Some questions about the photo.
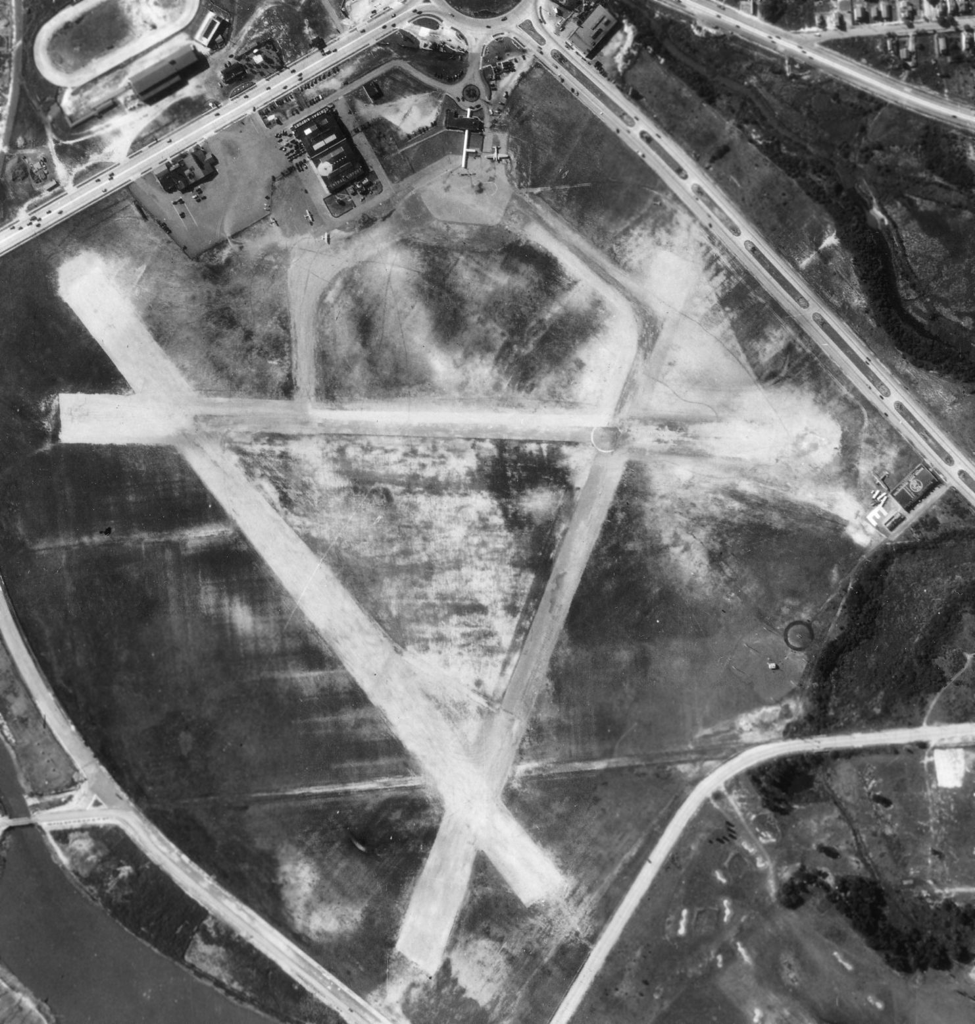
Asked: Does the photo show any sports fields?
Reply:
Yes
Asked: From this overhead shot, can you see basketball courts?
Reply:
No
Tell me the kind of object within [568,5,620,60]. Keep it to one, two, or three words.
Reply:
building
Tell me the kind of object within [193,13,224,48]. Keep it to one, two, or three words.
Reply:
building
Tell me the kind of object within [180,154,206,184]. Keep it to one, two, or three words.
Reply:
house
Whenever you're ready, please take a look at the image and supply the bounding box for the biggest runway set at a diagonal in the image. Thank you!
[58,254,561,905]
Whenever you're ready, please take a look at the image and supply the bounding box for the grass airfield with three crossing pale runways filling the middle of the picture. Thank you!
[58,119,911,973]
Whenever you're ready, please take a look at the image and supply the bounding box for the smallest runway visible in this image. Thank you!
[398,455,627,973]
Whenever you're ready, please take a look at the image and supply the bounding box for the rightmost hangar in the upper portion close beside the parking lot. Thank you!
[289,102,368,193]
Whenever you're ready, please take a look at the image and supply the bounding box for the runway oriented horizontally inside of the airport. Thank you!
[59,395,841,467]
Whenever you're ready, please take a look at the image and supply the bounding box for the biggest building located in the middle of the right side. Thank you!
[891,465,937,510]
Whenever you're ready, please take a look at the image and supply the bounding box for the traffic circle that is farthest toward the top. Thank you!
[424,0,545,35]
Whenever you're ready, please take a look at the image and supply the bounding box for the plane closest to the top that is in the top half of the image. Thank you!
[484,144,509,161]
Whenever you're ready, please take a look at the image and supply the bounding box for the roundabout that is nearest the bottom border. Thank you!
[455,77,487,109]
